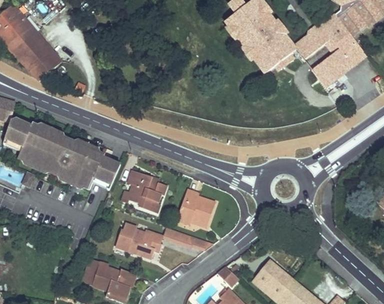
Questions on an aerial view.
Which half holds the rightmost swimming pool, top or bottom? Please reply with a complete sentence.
You can find the rightmost swimming pool in the bottom half.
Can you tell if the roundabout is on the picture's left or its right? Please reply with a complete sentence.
You can find the roundabout on the right side of the picture.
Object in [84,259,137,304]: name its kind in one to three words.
house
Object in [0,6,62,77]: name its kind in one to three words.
house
